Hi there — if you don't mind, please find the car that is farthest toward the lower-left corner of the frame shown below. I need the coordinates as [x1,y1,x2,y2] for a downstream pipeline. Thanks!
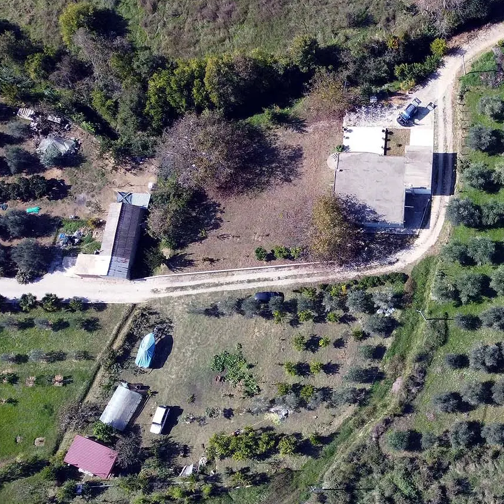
[150,405,171,435]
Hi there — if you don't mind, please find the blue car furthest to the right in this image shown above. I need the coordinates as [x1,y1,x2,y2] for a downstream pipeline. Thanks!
[398,97,419,127]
